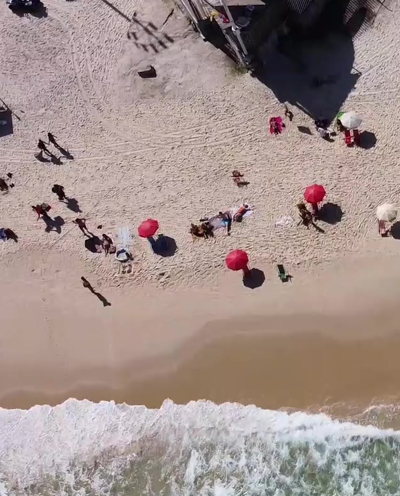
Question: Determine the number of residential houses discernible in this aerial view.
0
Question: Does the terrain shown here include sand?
Yes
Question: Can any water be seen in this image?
Yes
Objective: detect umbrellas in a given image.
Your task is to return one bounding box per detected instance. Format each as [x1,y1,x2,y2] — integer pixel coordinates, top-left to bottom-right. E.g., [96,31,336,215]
[377,208,400,225]
[139,222,161,241]
[226,251,252,274]
[304,188,328,206]
[341,115,363,133]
